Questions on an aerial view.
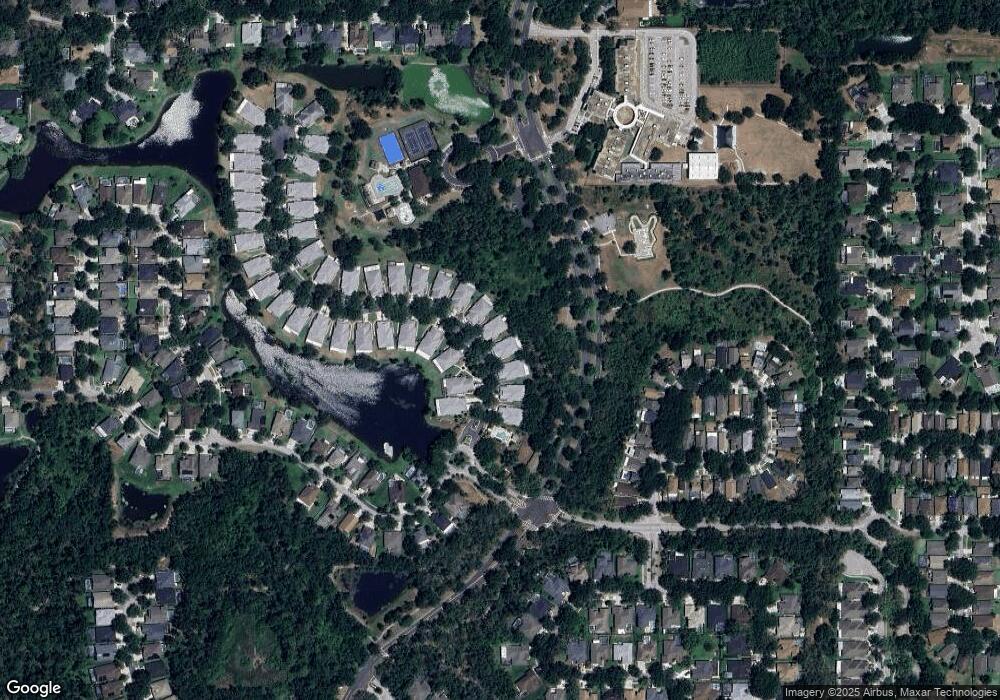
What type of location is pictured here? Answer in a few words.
residential area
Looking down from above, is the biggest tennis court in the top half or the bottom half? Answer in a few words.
top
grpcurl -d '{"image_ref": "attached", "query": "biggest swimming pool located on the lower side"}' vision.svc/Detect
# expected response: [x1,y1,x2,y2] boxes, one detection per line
[490,426,512,443]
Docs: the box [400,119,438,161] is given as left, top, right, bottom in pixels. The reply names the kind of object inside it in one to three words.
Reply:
tennis court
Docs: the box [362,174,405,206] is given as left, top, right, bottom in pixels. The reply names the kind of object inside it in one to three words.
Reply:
swimming pool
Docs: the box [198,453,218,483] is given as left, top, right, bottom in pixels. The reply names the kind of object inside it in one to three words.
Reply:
house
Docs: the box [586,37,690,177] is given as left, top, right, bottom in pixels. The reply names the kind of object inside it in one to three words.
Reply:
building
